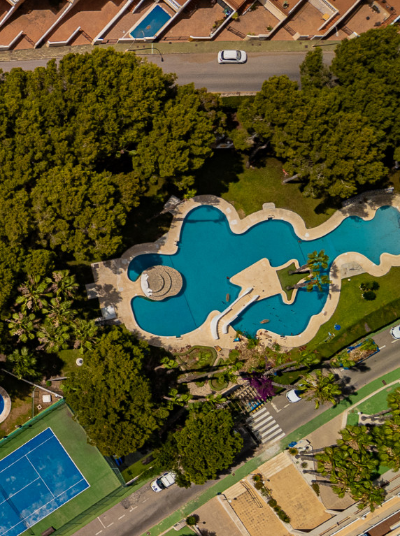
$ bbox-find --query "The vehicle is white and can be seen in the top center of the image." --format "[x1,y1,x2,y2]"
[220,47,248,62]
